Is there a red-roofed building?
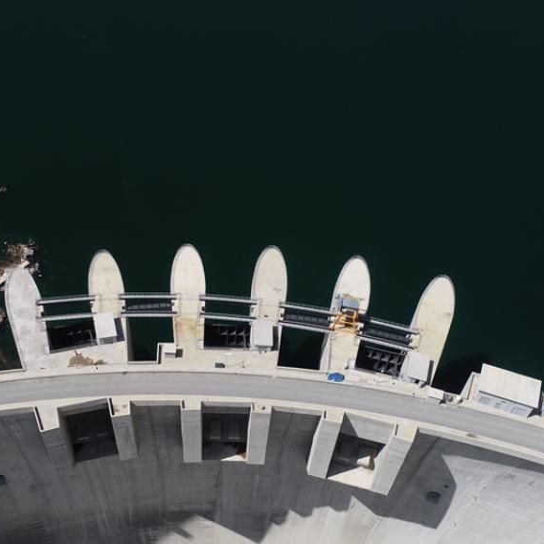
No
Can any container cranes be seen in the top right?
No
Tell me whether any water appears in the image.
Yes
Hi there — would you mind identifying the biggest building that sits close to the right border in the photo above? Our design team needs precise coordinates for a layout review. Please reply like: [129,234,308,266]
[476,363,542,417]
